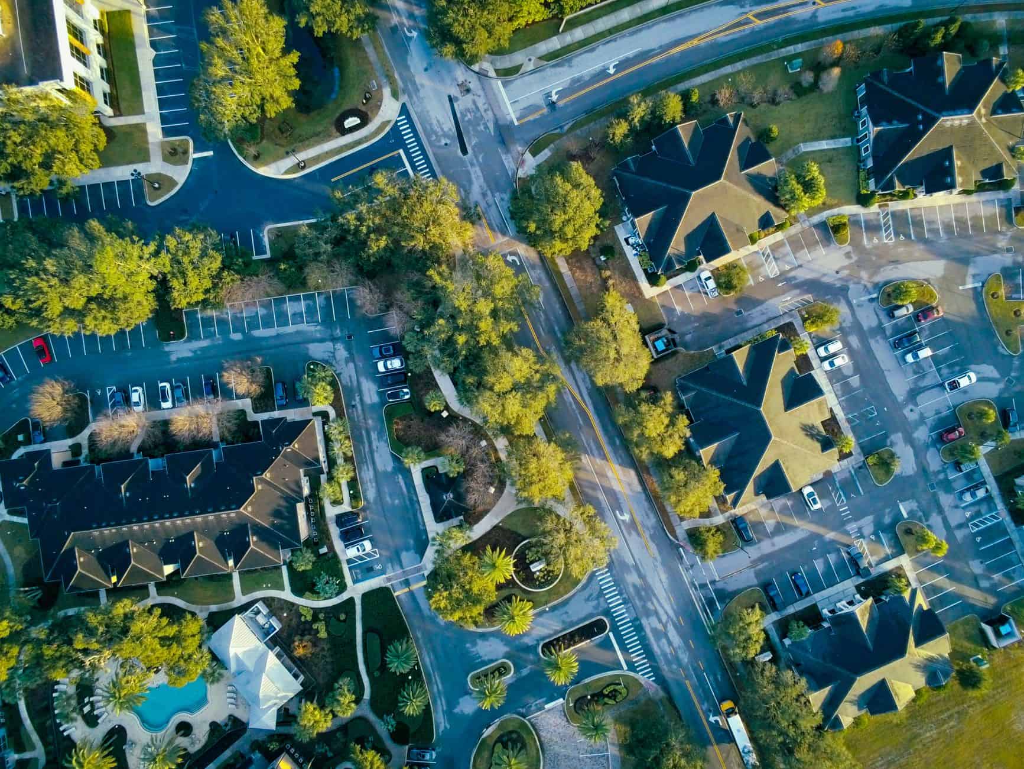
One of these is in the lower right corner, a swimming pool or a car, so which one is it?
car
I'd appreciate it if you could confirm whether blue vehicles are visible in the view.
Yes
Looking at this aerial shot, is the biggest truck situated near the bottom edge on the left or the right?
right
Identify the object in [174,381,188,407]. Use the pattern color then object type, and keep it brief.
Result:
blue car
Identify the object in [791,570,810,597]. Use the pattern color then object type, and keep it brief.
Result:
blue car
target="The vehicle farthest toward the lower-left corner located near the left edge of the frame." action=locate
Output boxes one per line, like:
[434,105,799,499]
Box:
[30,420,45,442]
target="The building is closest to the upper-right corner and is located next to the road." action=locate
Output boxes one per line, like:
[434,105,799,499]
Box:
[858,51,1024,197]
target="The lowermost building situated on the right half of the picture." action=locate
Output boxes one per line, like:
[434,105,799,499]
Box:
[785,586,956,730]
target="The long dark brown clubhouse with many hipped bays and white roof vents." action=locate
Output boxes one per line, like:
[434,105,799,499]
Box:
[0,415,326,592]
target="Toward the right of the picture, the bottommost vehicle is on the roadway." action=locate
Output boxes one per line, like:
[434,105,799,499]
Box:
[718,694,760,768]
